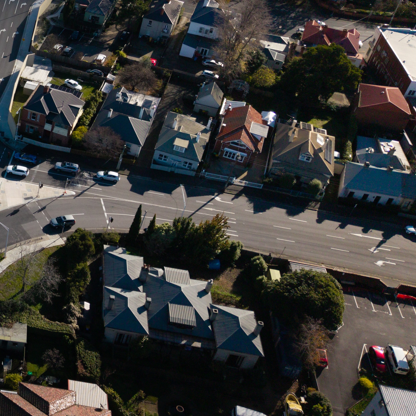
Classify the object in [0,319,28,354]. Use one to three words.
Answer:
building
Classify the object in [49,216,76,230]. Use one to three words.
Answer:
vehicle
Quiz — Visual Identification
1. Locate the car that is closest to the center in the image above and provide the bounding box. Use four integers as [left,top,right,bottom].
[97,172,120,185]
